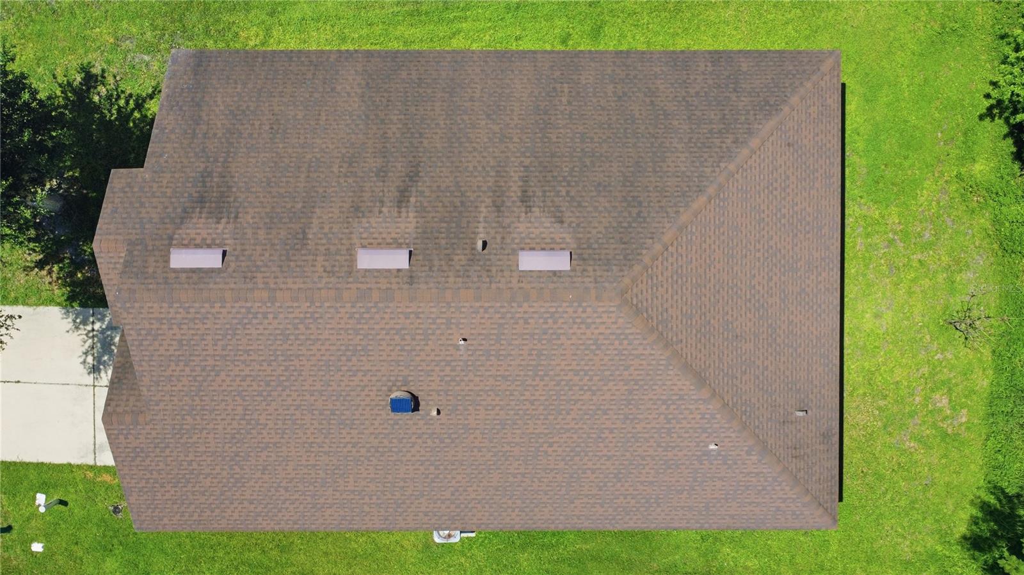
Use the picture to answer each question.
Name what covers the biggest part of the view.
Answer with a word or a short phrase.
buildings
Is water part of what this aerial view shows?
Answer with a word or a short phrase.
No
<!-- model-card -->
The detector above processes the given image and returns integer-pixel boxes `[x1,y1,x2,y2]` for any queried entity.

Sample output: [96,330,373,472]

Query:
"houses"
[92,48,842,532]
